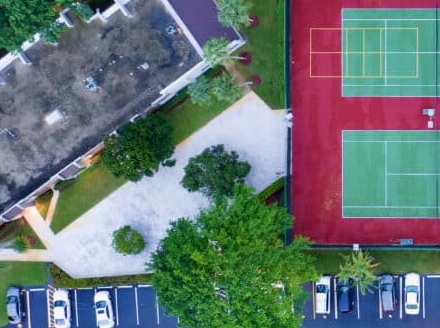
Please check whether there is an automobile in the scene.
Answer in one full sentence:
Yes, you can see an automobile in this photo.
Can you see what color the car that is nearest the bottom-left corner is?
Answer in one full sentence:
In this view, the car that is nearest the bottom-left corner is blue.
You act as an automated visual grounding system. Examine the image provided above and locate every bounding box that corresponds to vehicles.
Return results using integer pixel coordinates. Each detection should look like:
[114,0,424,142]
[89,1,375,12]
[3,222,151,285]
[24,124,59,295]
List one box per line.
[379,275,396,312]
[336,277,353,316]
[3,286,25,325]
[403,273,421,314]
[51,289,72,328]
[314,275,332,316]
[93,290,115,328]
